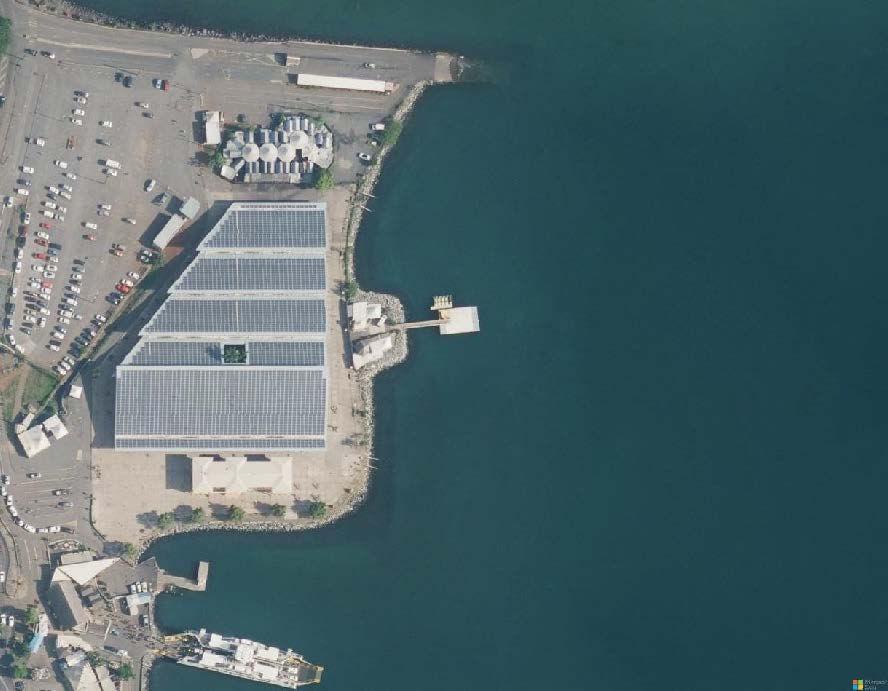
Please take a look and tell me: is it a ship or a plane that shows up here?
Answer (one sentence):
There is a ship in the scene.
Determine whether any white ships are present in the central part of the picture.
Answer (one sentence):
No, looking in the central part of the picture, there is no white ship.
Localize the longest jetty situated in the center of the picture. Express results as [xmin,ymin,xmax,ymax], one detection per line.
[391,306,480,335]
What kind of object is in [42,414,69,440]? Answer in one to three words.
building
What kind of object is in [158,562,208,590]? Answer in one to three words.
pier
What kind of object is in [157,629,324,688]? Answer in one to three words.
ship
